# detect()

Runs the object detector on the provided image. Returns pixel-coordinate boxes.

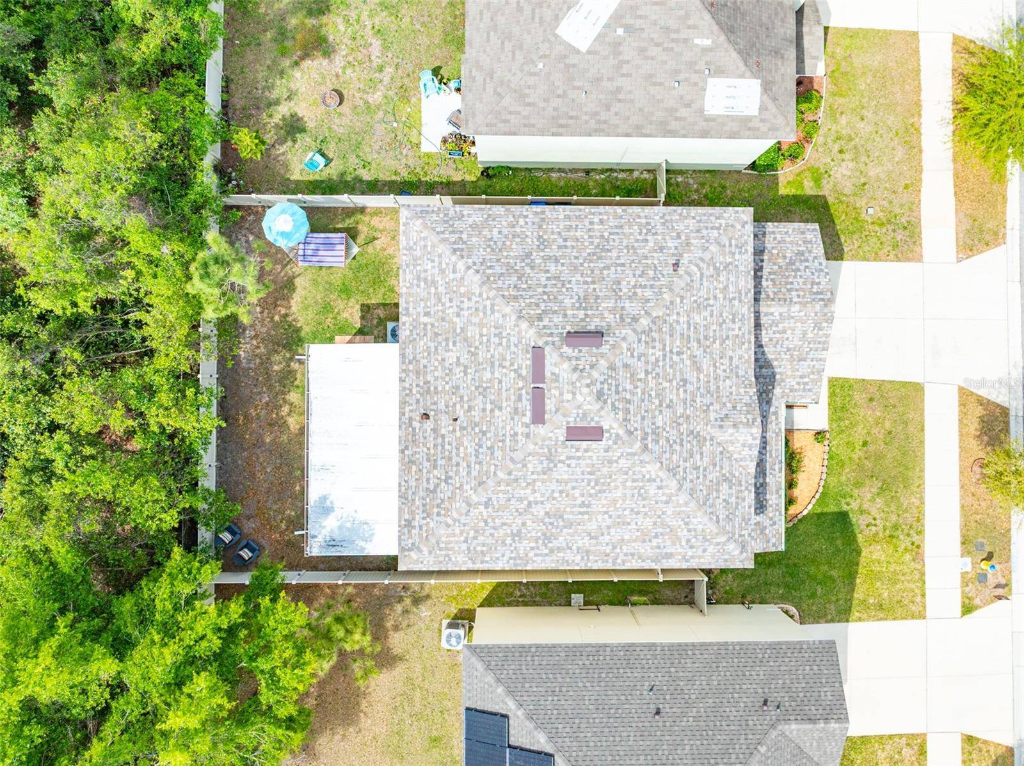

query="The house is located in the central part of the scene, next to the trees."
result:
[399,206,840,570]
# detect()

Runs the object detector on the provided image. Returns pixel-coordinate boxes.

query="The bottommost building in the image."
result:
[462,599,853,766]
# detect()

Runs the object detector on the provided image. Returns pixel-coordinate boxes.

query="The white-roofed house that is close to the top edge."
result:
[459,0,826,170]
